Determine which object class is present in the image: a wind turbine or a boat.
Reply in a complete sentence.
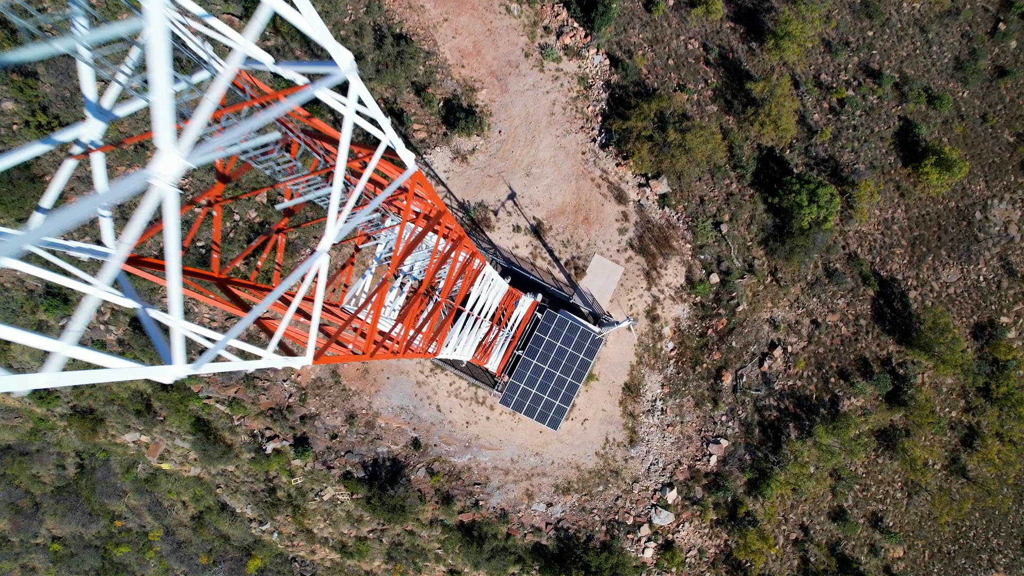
Of the two, only a wind turbine appears.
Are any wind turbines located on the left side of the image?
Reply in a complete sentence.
No, the scene shows no wind turbine on the left side of the image.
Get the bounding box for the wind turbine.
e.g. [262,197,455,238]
[596,300,642,338]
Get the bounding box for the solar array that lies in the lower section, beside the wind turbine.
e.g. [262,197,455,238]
[499,307,604,431]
